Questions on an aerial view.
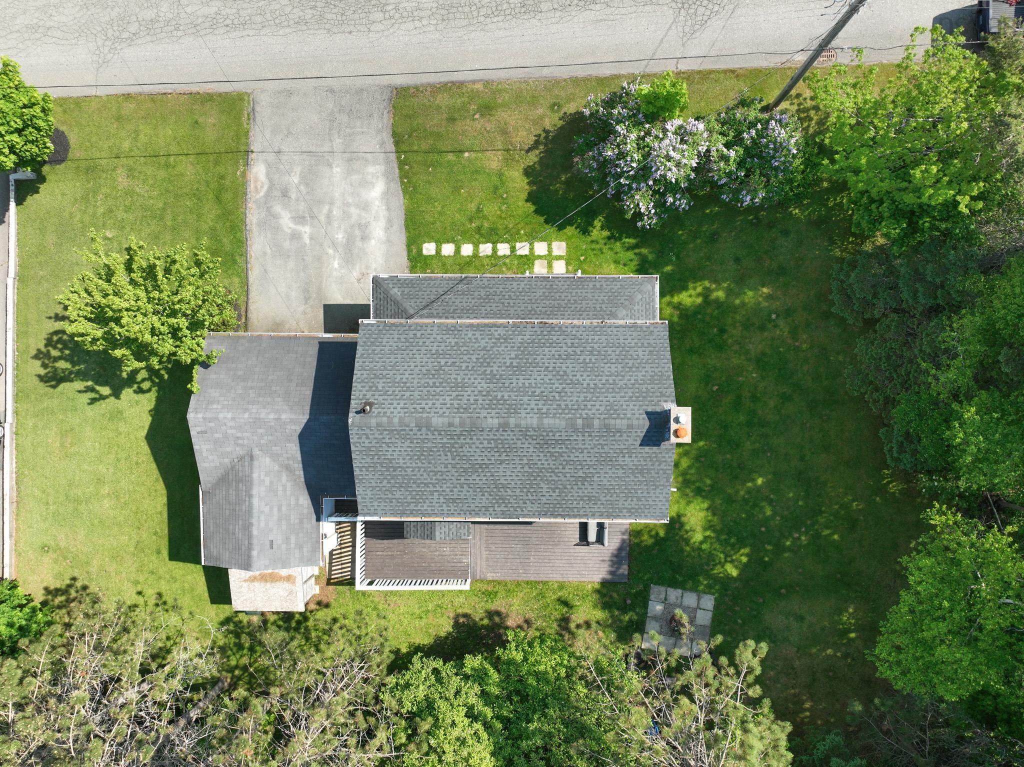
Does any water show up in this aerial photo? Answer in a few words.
No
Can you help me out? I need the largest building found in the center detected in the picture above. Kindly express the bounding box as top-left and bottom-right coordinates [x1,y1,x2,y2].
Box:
[188,272,691,573]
